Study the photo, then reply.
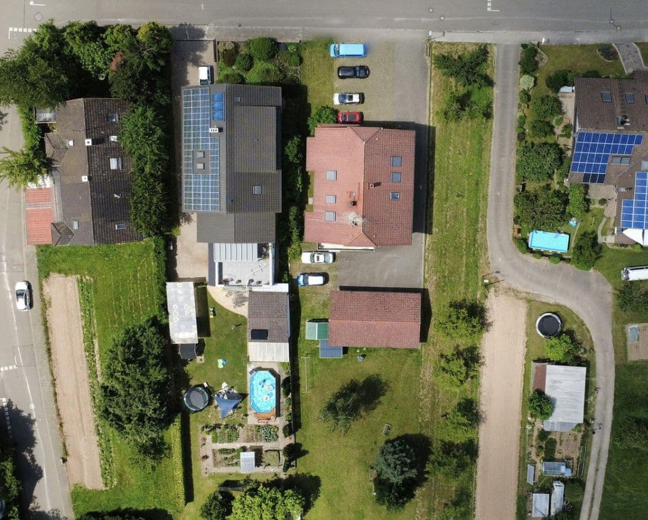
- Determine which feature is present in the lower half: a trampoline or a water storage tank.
trampoline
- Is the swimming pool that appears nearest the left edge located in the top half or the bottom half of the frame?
bottom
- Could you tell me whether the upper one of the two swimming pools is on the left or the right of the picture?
right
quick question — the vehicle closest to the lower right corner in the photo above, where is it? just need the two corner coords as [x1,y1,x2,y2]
[620,264,648,282]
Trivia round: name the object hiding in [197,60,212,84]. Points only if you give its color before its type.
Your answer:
white vehicle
